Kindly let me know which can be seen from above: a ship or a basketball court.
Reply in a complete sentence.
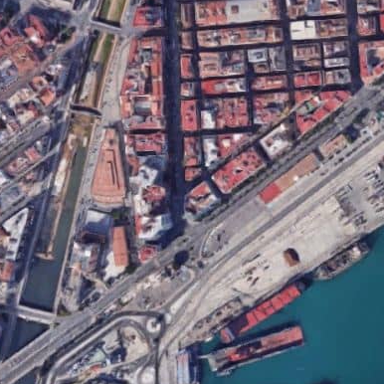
Looking from above, you can make out a ship.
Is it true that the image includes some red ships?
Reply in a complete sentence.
Yes, there's a red ship down there.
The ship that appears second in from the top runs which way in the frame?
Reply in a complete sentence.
The ship that appears second in from the top has been laid out diagonally relative to the frame.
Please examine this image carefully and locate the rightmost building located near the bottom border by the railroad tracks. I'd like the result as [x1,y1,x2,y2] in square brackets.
[177,352,191,384]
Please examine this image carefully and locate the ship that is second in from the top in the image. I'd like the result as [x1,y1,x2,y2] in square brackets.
[218,280,310,346]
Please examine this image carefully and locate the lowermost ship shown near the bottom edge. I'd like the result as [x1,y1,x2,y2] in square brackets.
[208,329,303,371]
